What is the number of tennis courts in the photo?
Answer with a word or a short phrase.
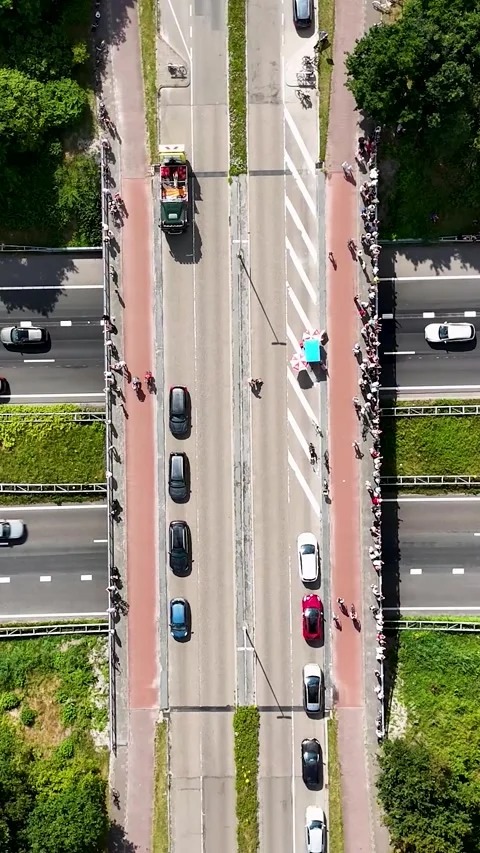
0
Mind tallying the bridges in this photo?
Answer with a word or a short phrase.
1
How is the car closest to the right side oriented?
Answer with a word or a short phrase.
from left to right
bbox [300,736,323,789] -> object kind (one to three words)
car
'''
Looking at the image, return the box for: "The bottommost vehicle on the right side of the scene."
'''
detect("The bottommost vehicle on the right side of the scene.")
[304,803,328,853]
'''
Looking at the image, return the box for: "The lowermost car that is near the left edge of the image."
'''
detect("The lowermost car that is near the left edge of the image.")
[0,518,25,541]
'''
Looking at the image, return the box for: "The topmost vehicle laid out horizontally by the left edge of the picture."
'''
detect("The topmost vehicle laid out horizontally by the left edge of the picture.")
[2,326,48,348]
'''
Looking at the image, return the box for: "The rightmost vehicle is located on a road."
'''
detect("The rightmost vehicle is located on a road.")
[425,322,475,346]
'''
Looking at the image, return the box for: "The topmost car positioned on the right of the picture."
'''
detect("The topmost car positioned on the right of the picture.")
[292,0,313,29]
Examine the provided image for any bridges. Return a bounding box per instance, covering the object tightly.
[104,151,382,711]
